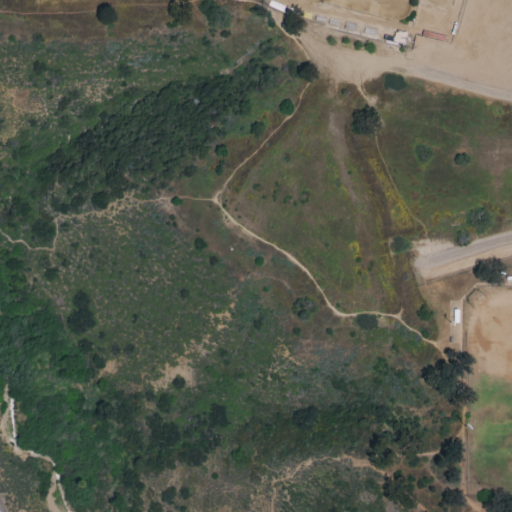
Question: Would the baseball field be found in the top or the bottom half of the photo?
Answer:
bottom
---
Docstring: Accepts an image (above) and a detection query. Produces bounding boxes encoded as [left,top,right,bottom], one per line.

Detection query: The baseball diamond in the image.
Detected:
[464,285,512,500]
